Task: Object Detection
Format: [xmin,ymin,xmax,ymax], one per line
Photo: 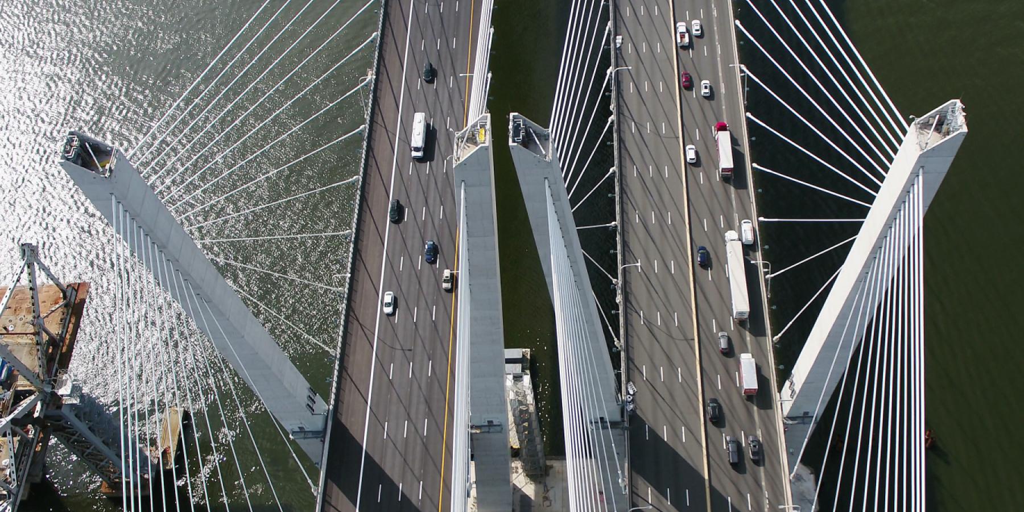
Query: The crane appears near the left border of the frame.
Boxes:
[0,241,158,512]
